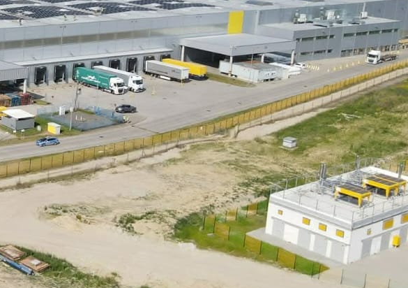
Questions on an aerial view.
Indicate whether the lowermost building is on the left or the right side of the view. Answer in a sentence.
The lowermost building is on the right side of the image.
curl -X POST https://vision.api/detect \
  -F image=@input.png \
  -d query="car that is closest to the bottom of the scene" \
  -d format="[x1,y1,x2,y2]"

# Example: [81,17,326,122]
[36,134,61,146]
